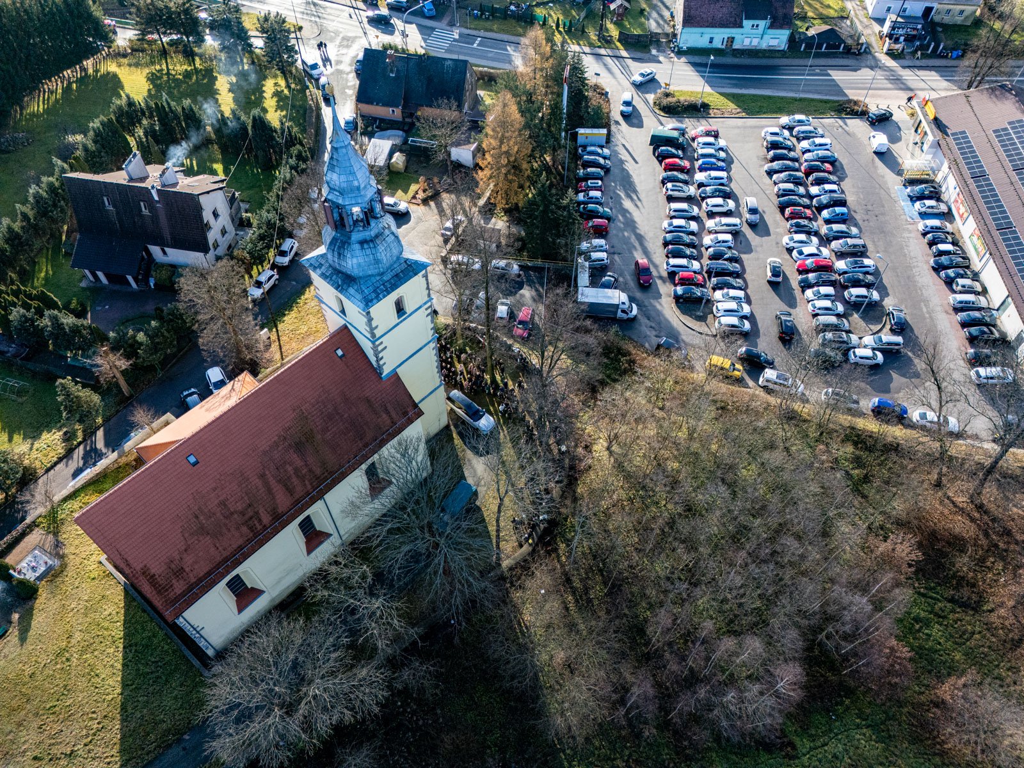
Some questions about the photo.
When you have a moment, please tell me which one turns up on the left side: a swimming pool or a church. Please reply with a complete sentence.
It is a church that can be seen on the left side.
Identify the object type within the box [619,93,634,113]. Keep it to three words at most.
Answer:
car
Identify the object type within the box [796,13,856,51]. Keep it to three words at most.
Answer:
building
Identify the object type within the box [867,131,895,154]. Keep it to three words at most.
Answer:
vehicle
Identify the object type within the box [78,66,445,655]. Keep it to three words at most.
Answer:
church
